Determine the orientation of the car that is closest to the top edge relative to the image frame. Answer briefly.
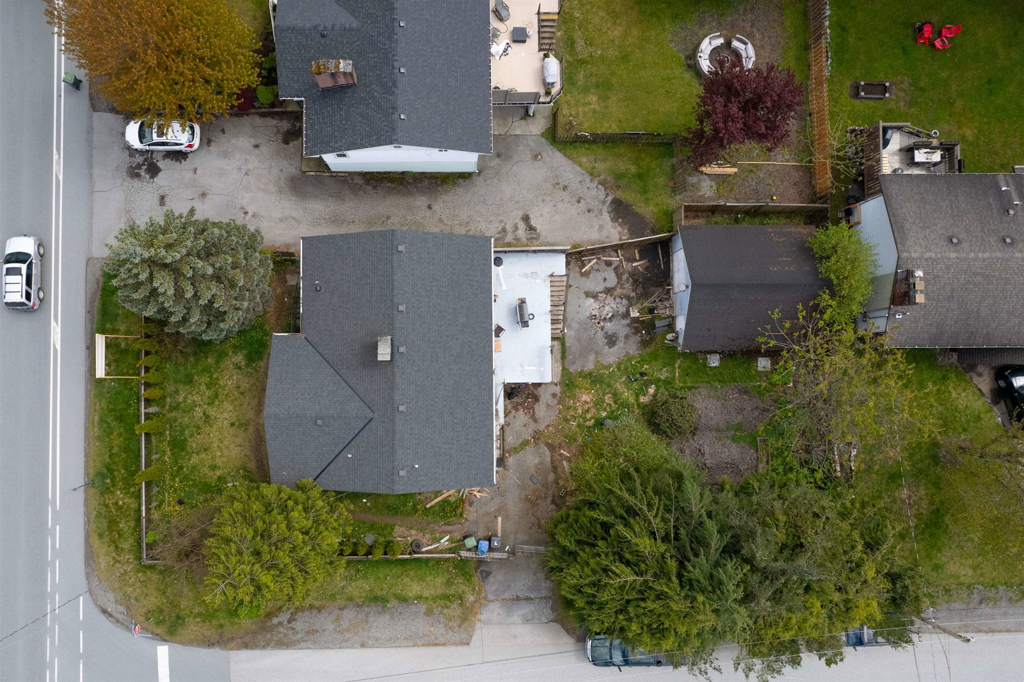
from side to side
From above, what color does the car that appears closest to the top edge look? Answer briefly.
white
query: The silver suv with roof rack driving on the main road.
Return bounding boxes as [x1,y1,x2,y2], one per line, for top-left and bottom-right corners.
[1,235,45,310]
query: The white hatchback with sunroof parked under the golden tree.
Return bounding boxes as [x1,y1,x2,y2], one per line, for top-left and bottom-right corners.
[126,113,201,151]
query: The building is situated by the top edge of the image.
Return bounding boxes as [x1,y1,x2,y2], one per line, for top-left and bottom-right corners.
[268,0,494,174]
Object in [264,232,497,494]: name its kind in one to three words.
house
